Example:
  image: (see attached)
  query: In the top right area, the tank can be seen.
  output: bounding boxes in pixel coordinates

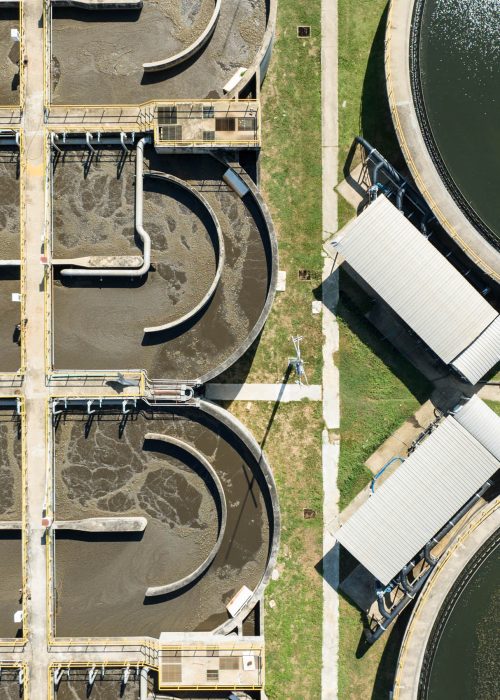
[384,0,500,285]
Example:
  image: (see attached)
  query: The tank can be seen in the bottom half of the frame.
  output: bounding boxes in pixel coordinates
[392,496,500,700]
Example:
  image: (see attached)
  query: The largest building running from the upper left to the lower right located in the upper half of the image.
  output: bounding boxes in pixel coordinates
[334,194,499,364]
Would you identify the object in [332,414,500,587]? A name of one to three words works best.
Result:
building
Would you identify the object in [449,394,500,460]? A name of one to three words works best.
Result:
building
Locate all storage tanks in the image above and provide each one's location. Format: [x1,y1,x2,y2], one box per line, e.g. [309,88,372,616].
[392,496,500,700]
[384,0,500,285]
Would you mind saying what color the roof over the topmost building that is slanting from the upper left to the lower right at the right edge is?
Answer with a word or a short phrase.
white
